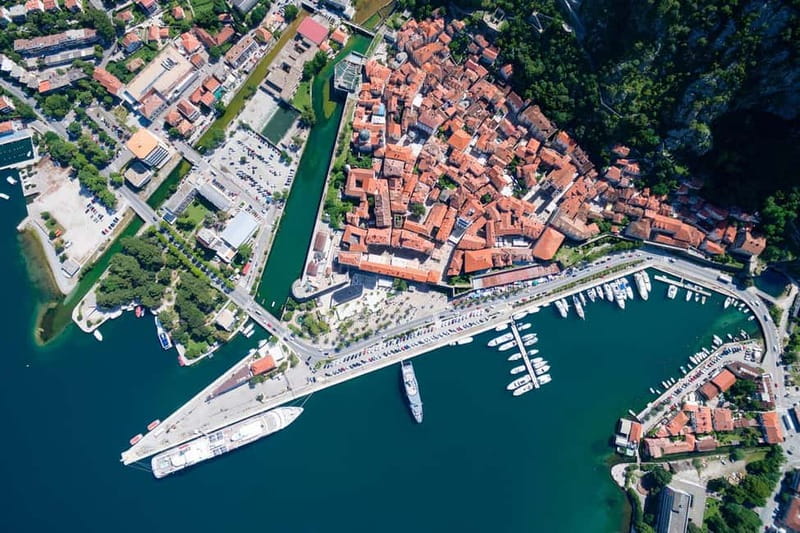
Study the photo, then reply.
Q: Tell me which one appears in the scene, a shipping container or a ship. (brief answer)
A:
ship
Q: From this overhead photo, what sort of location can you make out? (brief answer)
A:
residential area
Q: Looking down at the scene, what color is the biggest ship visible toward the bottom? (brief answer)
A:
white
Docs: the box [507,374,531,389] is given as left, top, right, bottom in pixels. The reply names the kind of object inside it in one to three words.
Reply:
boat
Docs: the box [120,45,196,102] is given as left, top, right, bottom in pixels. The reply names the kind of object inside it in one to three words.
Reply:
building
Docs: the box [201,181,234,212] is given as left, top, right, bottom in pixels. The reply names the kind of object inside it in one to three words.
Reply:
house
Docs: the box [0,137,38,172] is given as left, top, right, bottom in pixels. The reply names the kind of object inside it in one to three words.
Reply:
swimming pool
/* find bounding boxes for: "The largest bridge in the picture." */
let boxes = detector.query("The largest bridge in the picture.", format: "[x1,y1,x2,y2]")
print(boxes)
[247,299,283,338]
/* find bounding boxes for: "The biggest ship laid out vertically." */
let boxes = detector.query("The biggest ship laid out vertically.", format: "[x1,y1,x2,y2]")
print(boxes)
[401,356,421,421]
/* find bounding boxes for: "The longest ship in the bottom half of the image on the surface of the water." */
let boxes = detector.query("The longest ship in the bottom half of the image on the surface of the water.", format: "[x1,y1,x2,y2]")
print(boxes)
[152,408,302,474]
